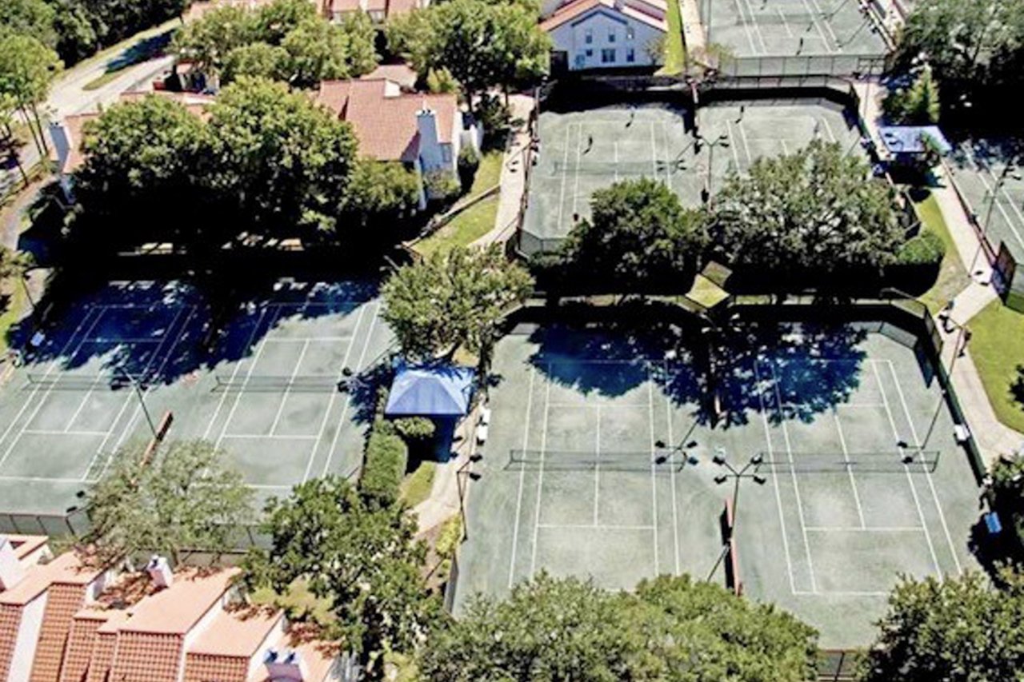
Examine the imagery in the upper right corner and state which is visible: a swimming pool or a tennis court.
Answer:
tennis court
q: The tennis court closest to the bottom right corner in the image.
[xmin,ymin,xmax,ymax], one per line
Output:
[713,315,1024,682]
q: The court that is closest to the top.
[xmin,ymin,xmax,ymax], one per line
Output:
[705,0,888,76]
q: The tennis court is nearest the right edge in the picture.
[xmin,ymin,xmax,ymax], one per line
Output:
[942,129,1024,297]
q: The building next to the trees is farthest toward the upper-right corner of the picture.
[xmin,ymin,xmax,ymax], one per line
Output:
[877,126,950,176]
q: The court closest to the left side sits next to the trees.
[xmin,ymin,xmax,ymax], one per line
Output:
[0,276,228,552]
